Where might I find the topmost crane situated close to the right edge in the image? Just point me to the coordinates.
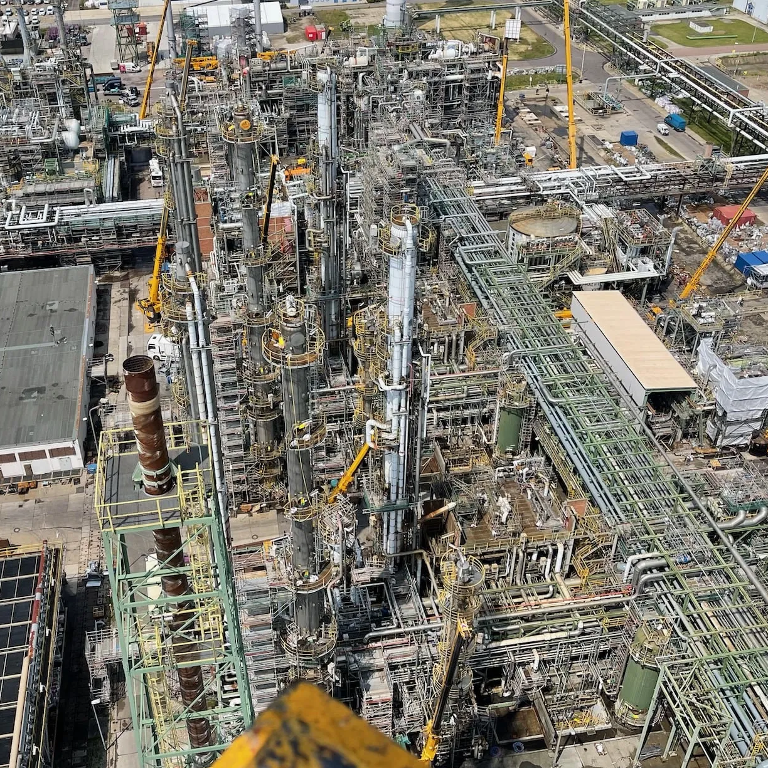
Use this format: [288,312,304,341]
[657,165,768,303]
